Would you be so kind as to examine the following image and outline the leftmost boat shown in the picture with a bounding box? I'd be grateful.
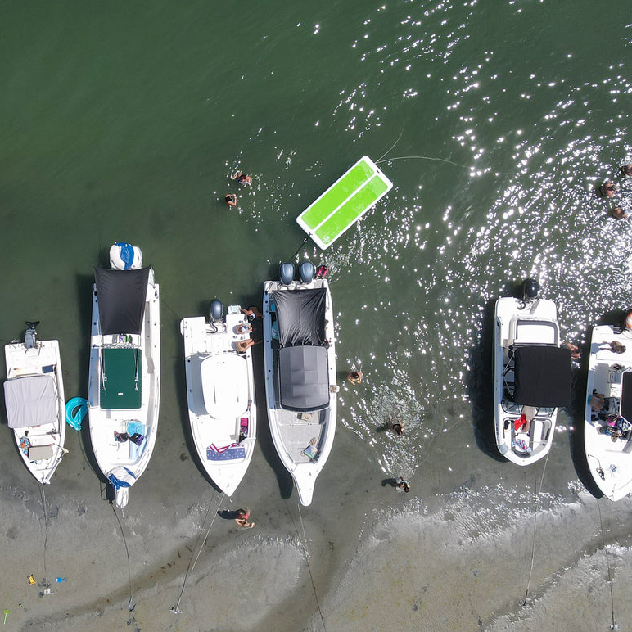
[5,321,68,484]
